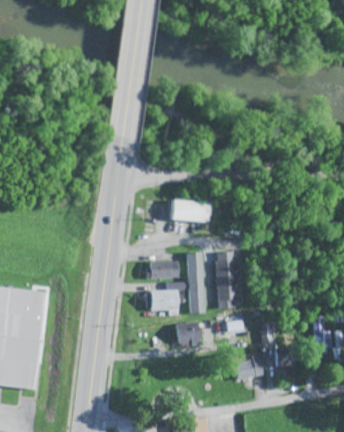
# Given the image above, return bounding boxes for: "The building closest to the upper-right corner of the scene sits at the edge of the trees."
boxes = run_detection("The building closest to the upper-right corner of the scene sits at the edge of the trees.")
[170,198,212,223]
